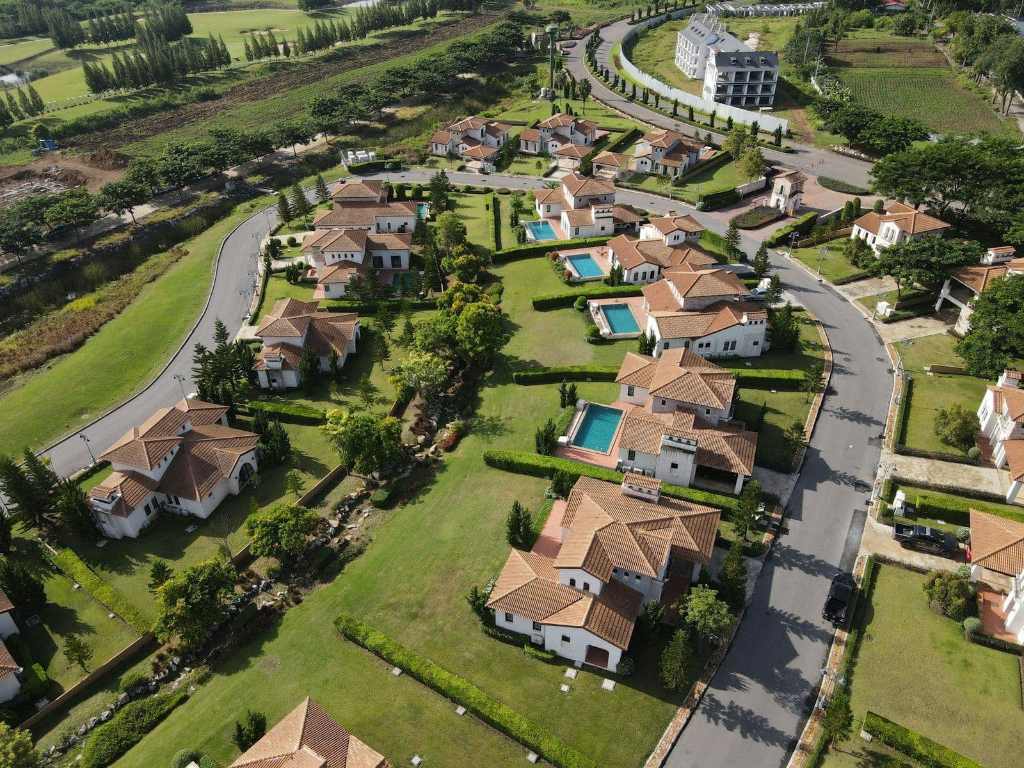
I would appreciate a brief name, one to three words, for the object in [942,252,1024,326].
house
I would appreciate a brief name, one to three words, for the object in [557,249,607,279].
swimming pool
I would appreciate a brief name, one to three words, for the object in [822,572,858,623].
truck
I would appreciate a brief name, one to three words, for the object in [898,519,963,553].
truck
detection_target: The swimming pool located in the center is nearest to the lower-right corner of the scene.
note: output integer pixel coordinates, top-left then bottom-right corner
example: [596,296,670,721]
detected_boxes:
[555,391,626,454]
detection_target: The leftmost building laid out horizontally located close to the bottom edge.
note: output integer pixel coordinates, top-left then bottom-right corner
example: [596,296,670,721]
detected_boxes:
[223,694,396,768]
